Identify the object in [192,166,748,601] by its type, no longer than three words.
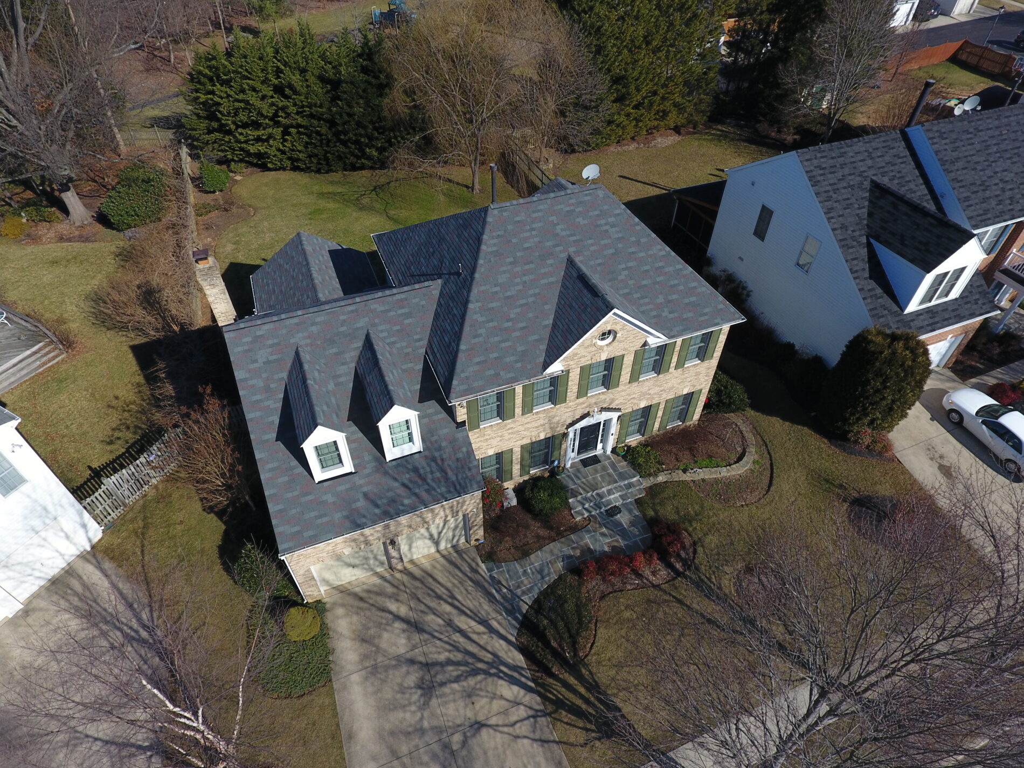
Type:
house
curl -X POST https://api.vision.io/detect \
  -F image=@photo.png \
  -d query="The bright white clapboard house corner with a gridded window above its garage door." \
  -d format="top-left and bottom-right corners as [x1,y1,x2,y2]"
[0,403,116,617]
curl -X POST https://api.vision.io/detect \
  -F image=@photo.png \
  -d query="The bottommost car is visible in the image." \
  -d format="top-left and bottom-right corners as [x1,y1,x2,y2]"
[947,395,1024,469]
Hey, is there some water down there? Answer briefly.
No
